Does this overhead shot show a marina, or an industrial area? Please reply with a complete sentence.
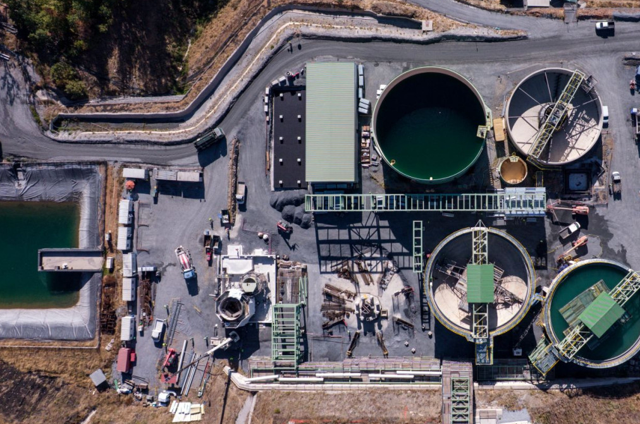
This image shows an industrial area.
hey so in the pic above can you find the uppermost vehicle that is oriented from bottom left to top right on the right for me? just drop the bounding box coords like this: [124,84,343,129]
[559,222,580,238]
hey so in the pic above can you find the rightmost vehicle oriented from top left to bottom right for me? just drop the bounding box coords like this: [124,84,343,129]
[276,219,294,237]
